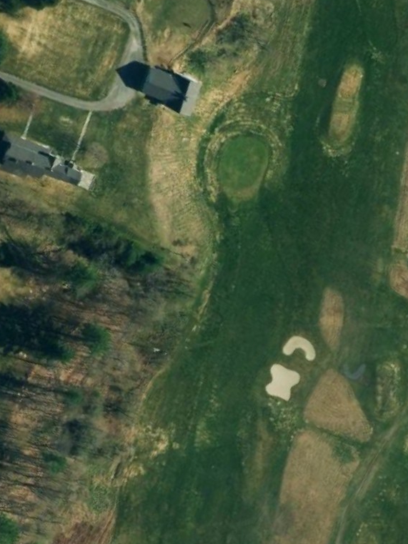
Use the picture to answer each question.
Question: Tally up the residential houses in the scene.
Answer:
2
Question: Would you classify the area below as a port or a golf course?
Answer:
golf course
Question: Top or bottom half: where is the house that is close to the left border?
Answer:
top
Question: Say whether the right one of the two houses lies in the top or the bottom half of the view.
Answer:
top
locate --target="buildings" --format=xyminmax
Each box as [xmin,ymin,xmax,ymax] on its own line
[141,65,205,118]
[3,134,95,190]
